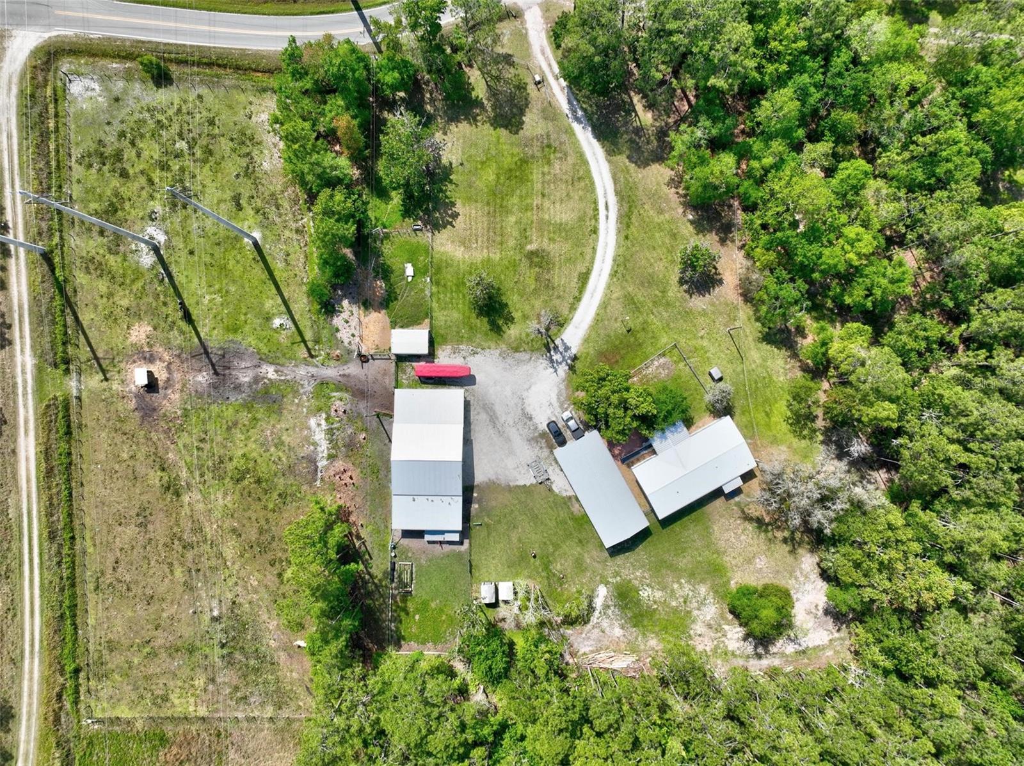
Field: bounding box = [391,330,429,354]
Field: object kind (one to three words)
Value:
shed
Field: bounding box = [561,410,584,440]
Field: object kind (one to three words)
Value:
truck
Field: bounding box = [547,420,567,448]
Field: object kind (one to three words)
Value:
car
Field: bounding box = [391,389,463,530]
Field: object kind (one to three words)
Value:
barn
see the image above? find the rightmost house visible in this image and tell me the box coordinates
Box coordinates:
[629,414,753,517]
